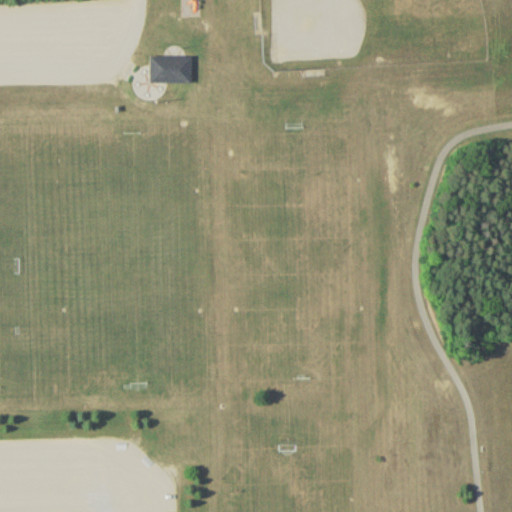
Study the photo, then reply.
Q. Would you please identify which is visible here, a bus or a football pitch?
football pitch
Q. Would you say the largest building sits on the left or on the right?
left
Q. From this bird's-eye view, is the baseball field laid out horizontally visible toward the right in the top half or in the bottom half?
top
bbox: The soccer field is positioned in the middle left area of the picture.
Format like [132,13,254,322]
[20,134,203,385]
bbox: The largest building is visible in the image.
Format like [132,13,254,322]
[150,56,192,82]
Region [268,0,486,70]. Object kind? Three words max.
baseball field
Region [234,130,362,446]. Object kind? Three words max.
soccer field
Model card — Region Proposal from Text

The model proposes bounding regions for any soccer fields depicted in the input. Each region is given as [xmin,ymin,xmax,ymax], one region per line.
[20,134,203,385]
[234,130,362,446]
